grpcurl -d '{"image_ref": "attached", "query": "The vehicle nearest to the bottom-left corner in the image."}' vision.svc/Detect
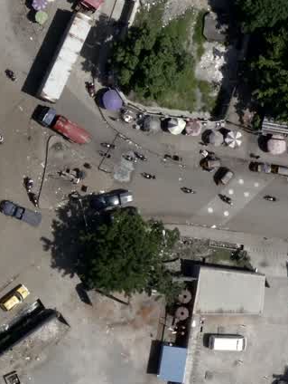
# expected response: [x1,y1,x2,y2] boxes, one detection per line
[0,281,33,313]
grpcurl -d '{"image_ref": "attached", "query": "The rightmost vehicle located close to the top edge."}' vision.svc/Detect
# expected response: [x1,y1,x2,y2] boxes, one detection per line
[35,0,101,103]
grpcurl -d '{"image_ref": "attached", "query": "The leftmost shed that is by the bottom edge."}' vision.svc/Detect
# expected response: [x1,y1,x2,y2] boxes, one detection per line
[154,343,189,383]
